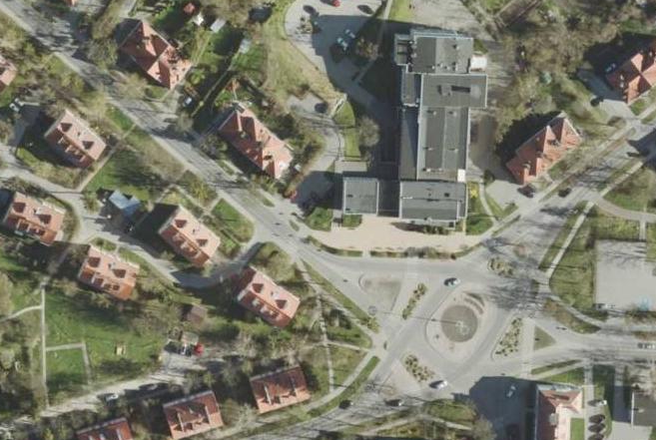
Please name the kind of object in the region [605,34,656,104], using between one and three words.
house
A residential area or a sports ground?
residential area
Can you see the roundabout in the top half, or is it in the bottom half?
bottom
